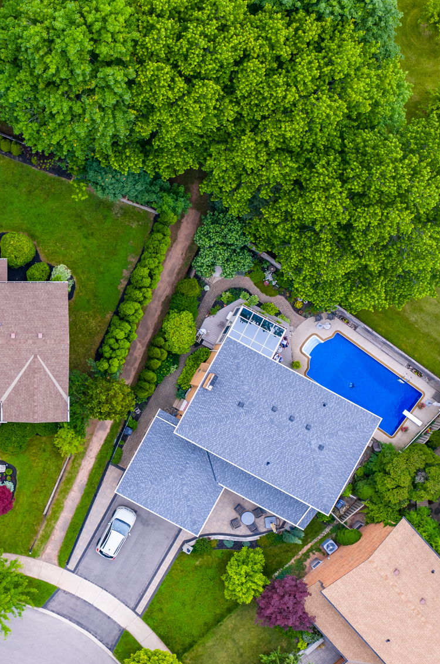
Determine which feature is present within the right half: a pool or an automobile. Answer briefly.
pool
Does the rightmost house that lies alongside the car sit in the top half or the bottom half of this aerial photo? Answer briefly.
bottom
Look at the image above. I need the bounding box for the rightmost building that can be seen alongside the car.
[114,335,384,538]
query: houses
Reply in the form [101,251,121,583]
[303,514,440,664]
[0,259,70,423]
[114,335,384,538]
